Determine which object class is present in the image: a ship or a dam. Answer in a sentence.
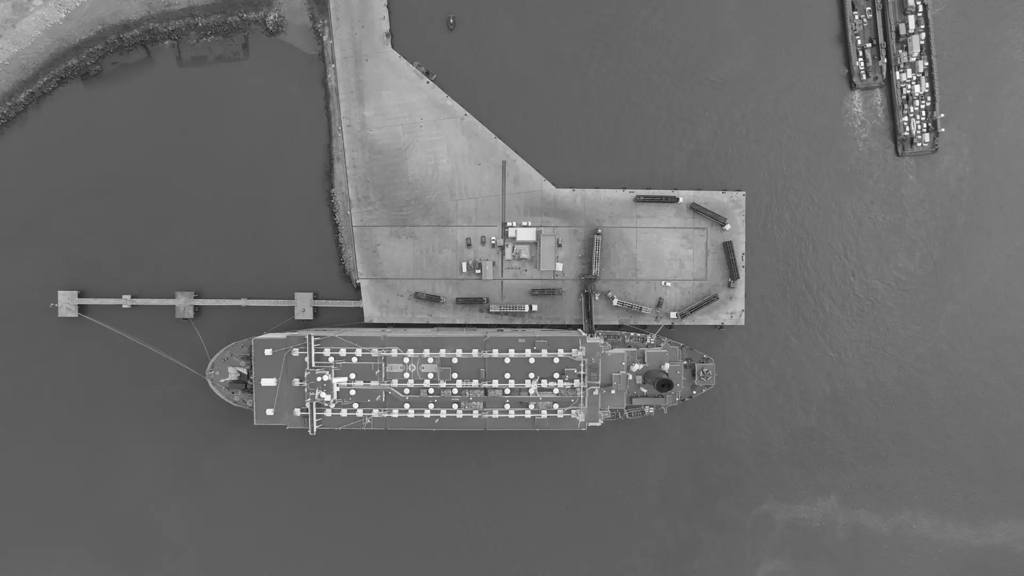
The image shows a ship.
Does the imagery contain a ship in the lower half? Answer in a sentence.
Yes, a ship shows up in the lower half.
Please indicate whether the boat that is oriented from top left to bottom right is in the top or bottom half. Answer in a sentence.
The top half of the photo is where the boat that is oriented from top left to bottom right is.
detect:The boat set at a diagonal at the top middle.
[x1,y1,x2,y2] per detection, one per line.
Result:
[413,62,438,83]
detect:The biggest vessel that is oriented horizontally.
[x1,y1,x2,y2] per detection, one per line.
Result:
[206,327,718,435]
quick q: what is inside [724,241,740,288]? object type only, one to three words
vehicle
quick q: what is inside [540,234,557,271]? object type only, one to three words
building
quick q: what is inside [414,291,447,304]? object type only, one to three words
vehicle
